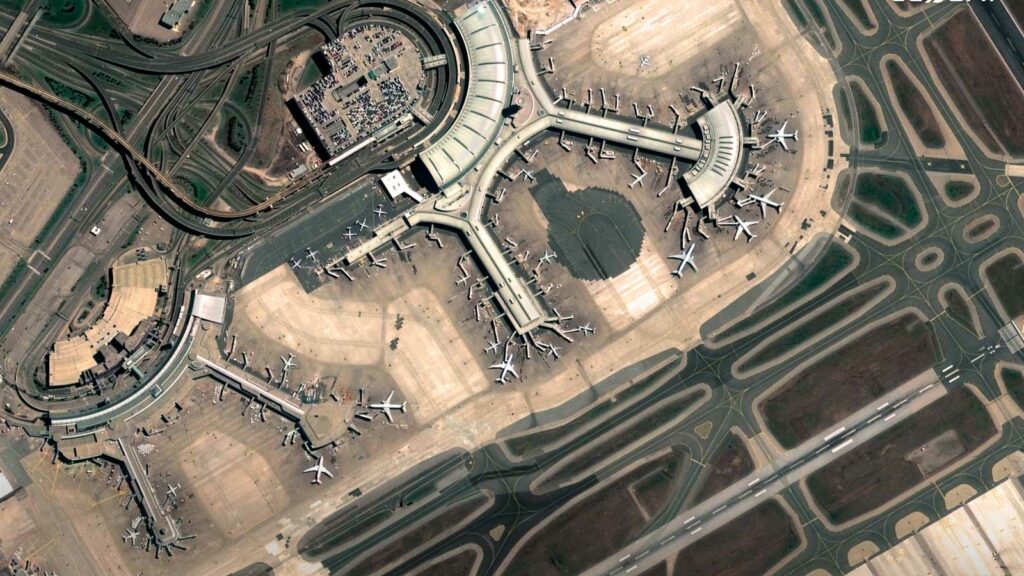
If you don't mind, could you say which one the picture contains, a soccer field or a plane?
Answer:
plane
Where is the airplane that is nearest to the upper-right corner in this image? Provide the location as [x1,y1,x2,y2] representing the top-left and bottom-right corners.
[766,122,798,150]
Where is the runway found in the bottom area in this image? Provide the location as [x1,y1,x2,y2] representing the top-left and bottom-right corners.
[574,367,948,576]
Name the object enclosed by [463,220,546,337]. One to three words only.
building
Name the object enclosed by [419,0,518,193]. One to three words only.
building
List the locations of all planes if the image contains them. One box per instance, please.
[766,122,798,150]
[491,354,520,384]
[484,342,500,352]
[372,204,389,218]
[668,243,702,279]
[733,215,759,243]
[579,324,595,334]
[527,172,537,180]
[123,531,139,541]
[304,456,332,485]
[456,276,468,286]
[356,217,369,231]
[369,389,406,422]
[290,257,301,268]
[750,188,783,216]
[304,246,320,261]
[282,353,297,370]
[550,344,560,357]
[626,173,646,189]
[541,250,557,262]
[341,227,358,241]
[167,483,180,495]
